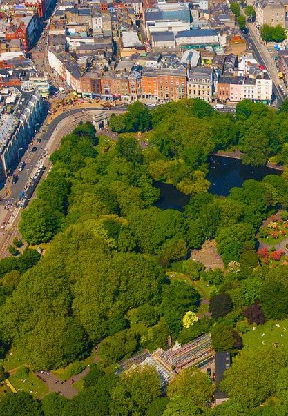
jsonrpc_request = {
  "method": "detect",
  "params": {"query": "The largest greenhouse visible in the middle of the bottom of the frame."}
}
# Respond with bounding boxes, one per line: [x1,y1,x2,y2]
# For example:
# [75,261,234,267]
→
[119,335,214,391]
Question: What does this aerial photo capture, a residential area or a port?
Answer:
residential area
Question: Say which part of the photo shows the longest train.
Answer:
left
